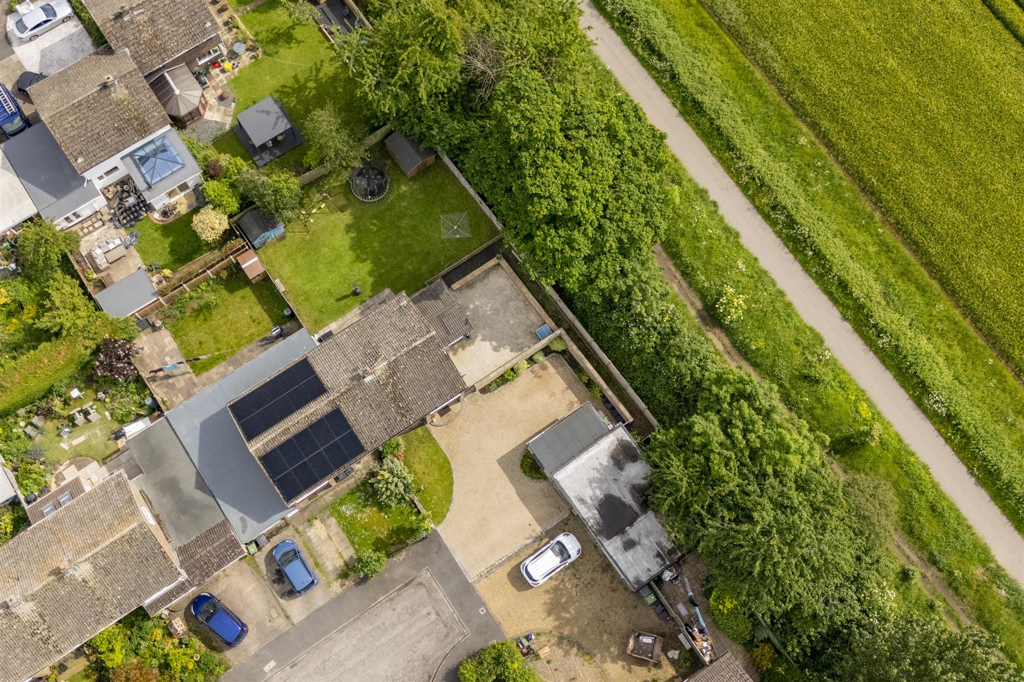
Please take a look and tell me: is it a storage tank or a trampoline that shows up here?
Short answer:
trampoline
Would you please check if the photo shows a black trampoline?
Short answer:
Yes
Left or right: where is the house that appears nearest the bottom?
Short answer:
right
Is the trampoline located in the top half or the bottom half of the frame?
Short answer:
top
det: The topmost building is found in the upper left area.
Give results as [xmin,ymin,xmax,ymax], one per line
[96,0,234,81]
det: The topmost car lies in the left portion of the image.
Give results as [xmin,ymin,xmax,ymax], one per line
[12,4,77,45]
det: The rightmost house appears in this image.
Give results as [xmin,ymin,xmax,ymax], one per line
[671,649,751,682]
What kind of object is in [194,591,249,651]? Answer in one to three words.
car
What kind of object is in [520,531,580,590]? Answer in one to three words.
car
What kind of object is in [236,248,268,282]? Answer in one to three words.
shed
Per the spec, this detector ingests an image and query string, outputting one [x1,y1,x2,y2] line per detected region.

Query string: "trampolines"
[347,161,388,205]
